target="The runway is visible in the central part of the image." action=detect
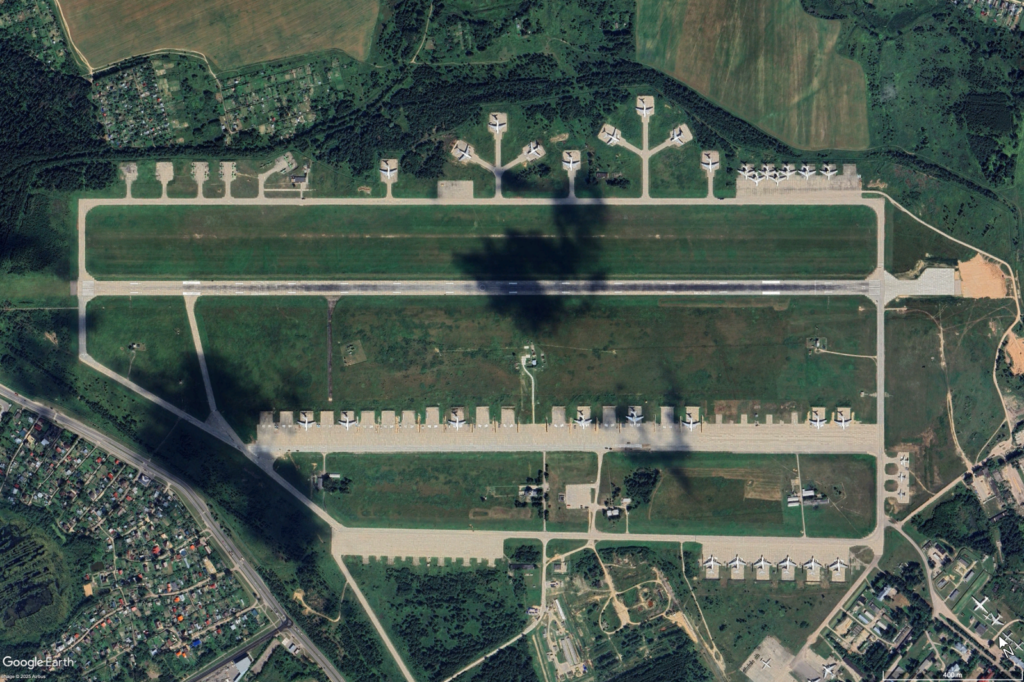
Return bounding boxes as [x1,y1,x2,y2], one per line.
[77,281,884,295]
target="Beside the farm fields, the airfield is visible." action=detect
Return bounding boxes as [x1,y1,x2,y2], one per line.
[70,96,961,682]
